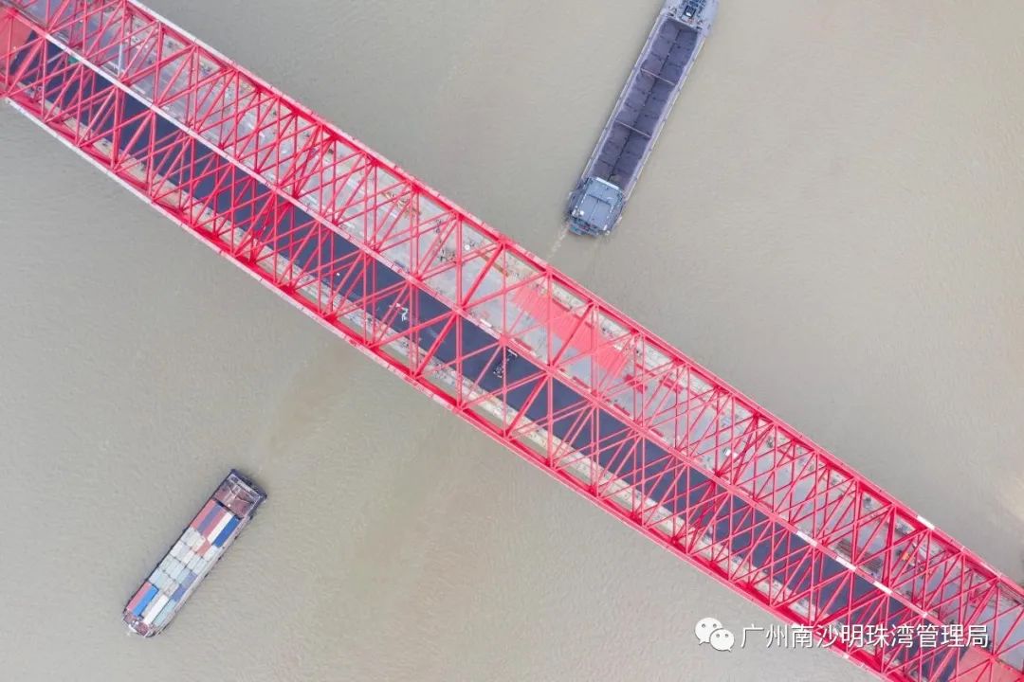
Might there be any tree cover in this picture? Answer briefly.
No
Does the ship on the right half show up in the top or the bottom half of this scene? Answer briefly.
top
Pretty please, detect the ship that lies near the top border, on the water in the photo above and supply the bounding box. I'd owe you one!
[563,0,720,243]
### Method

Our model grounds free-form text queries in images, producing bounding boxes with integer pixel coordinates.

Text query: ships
[563,0,720,243]
[126,465,271,639]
